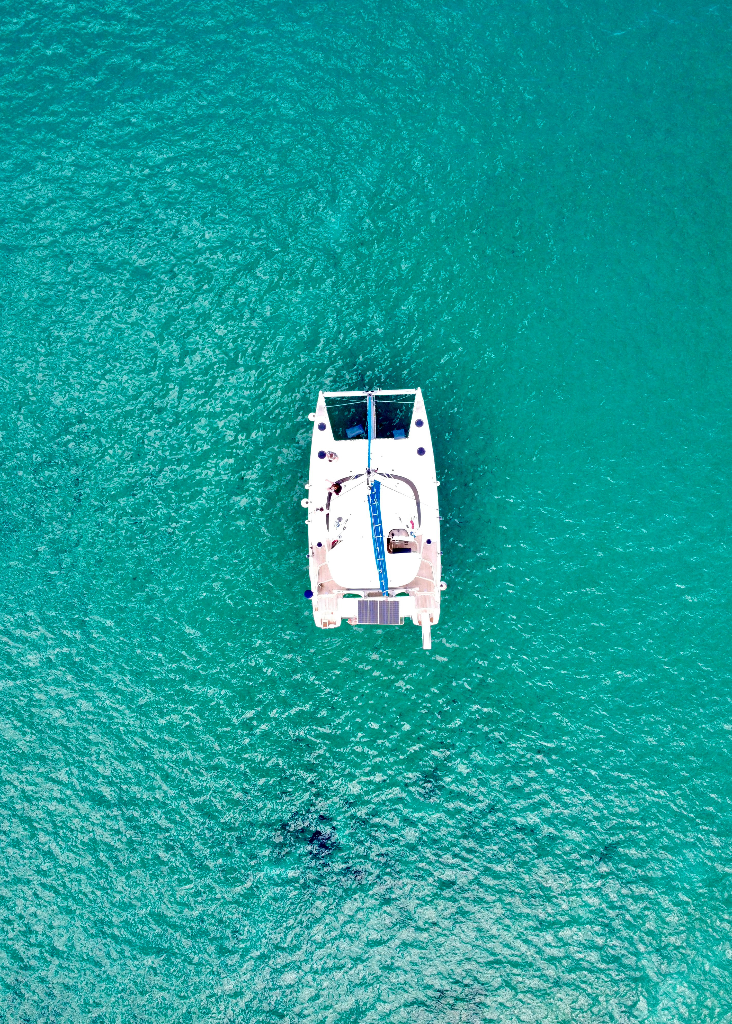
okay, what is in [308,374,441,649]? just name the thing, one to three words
boat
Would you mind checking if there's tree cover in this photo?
No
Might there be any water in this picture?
Yes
